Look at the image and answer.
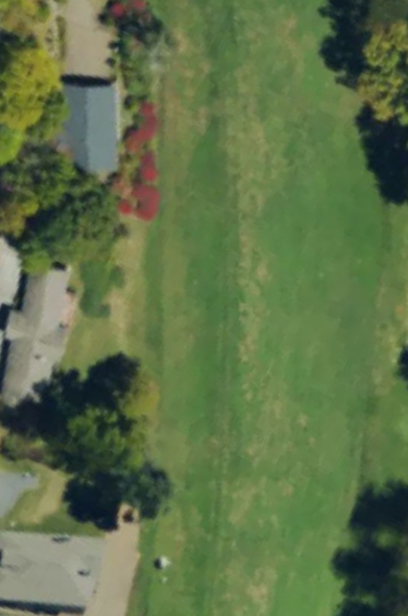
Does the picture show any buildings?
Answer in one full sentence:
Yes, the picture does show a building.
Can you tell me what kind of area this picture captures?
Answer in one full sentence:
The area seen from above is a golf course.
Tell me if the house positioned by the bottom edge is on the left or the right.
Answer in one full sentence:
The house positioned by the bottom edge sits on the left side.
